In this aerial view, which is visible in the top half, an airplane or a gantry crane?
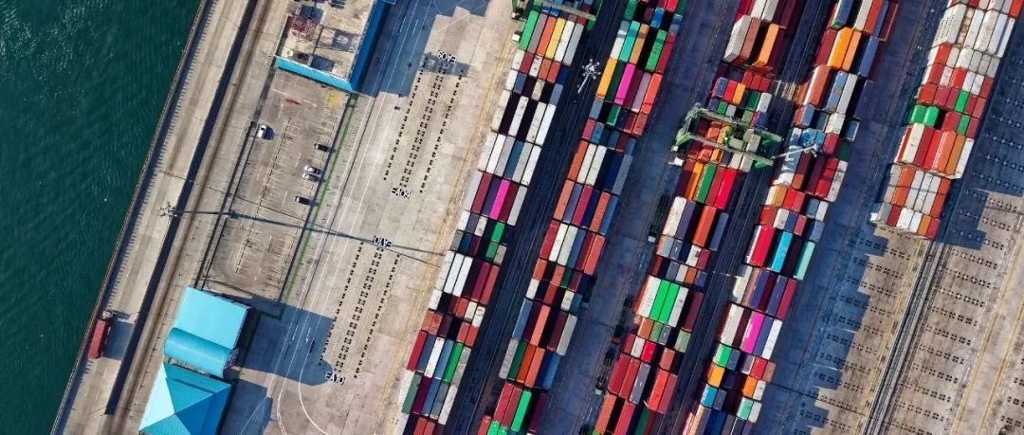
gantry crane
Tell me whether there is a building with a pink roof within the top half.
No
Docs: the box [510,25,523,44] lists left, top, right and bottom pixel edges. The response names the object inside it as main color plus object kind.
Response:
white vehicle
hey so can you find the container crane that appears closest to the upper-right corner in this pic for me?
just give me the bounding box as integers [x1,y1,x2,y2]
[670,105,785,177]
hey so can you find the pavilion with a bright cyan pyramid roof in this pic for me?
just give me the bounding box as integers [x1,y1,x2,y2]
[139,362,234,435]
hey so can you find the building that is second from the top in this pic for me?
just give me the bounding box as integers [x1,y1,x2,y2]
[159,282,262,382]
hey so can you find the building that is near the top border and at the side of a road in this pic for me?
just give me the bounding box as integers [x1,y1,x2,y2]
[275,0,385,92]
